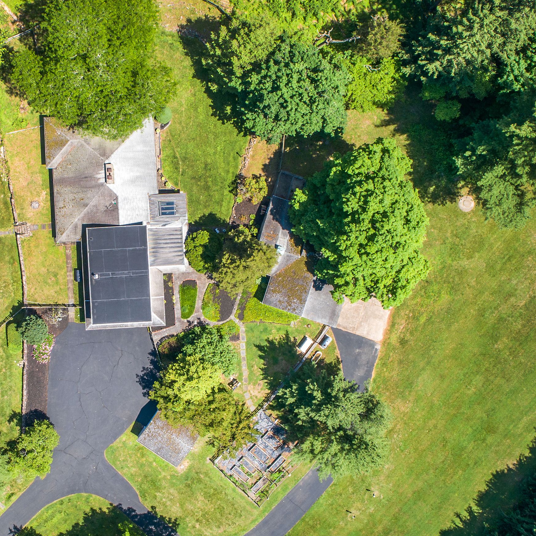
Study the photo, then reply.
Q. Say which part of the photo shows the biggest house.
left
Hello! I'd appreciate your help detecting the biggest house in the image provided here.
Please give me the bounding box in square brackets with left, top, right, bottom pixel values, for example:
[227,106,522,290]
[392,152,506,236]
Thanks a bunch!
[44,112,192,330]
